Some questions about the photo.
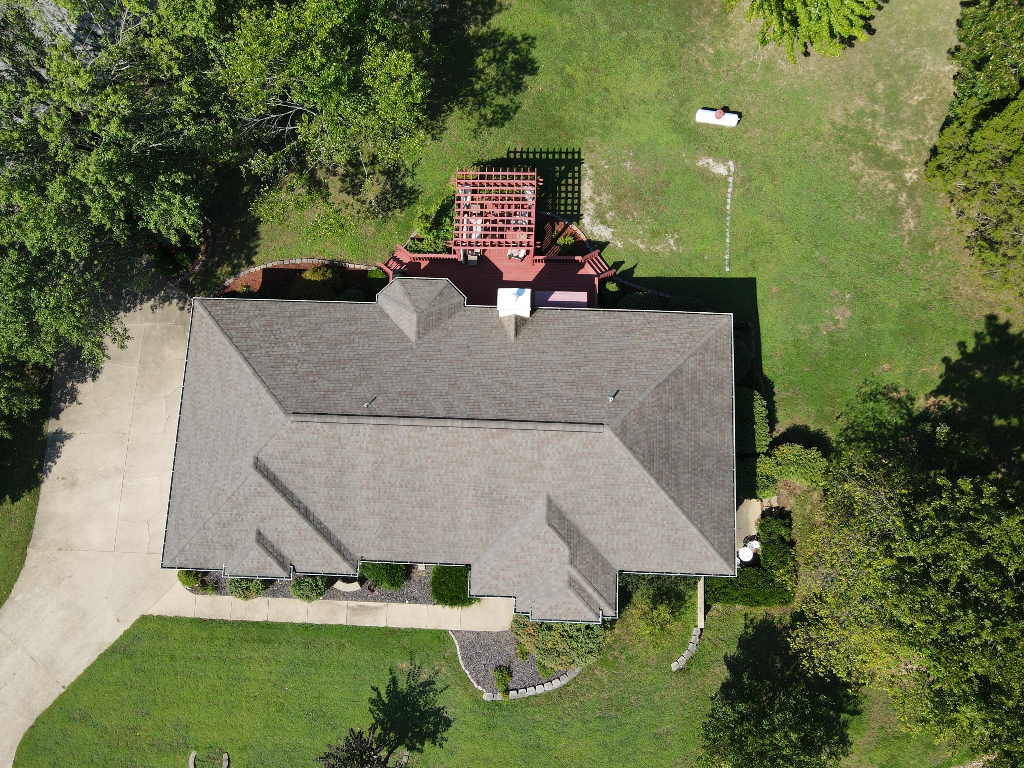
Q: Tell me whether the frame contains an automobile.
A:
No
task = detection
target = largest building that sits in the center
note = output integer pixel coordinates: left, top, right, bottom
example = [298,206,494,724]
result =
[160,277,738,624]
